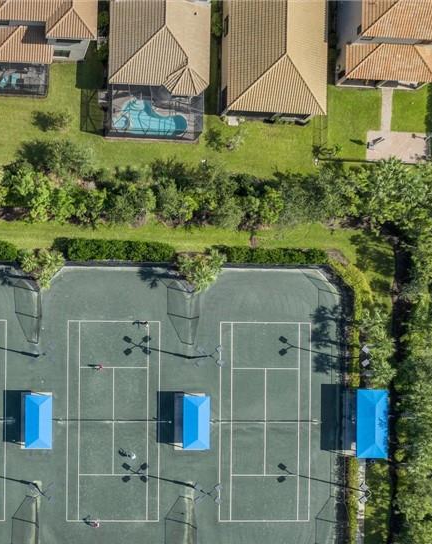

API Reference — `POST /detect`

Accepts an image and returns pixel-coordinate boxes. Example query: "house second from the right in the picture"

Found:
[220,0,328,120]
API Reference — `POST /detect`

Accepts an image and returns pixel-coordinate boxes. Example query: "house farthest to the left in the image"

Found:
[0,0,97,71]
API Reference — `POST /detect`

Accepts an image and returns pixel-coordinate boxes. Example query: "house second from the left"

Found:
[108,0,209,105]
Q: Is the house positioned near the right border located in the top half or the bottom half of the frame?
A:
top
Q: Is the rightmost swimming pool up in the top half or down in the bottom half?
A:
top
